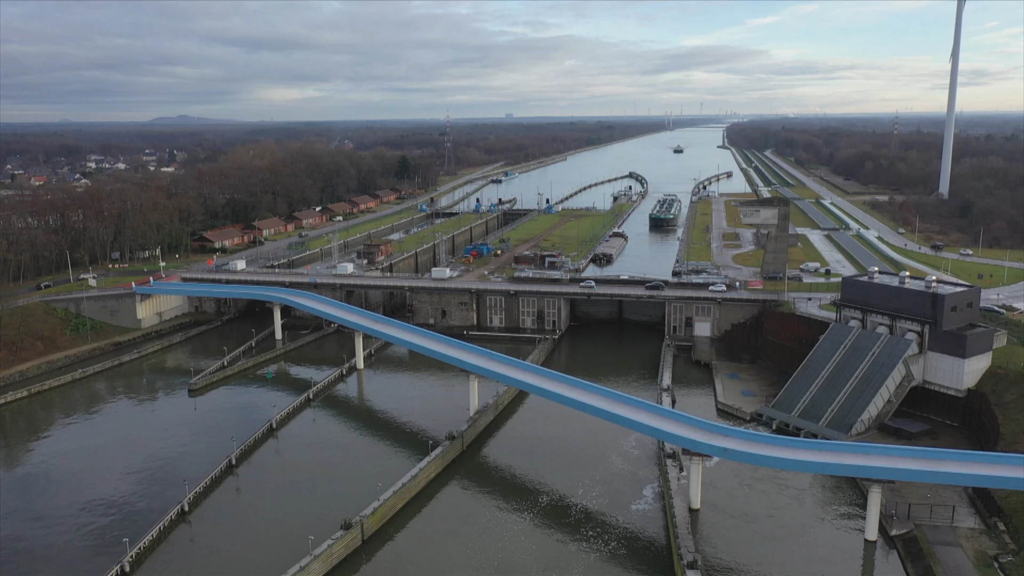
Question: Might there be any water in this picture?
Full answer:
Yes, some water is visible.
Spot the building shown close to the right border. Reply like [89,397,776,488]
[758,269,1004,442]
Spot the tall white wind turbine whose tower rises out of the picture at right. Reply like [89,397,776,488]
[938,0,966,193]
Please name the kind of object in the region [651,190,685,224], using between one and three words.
ship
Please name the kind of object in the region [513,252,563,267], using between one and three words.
building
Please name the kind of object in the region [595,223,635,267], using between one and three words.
ship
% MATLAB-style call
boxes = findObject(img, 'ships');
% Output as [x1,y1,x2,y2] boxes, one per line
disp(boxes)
[675,143,685,152]
[651,190,685,224]
[595,223,635,267]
